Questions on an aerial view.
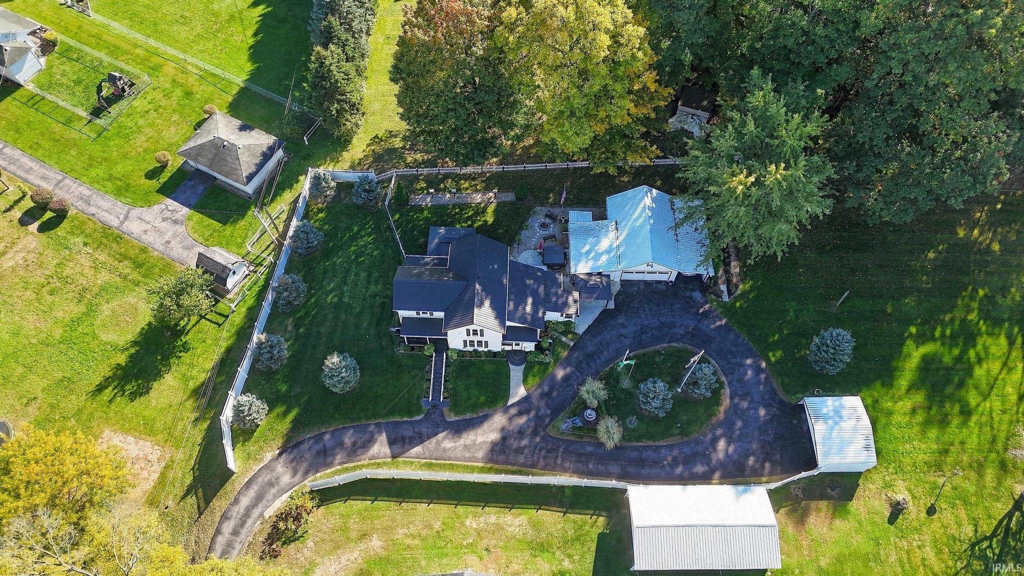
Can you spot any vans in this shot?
No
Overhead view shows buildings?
Yes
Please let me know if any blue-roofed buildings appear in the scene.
Yes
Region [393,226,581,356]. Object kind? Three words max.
house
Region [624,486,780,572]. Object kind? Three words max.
barn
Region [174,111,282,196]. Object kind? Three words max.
building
